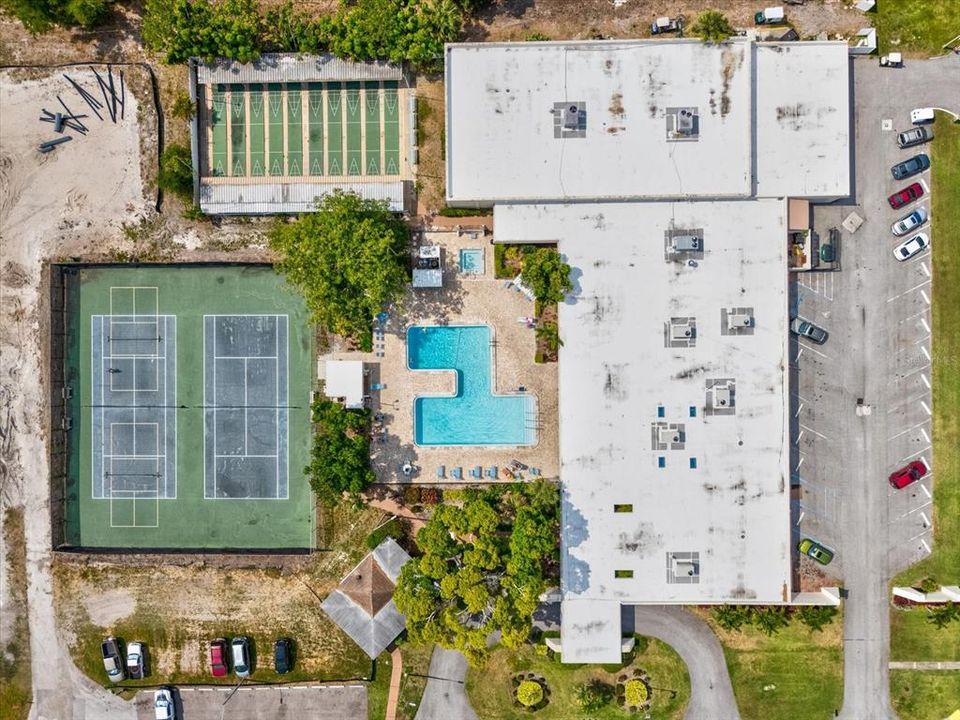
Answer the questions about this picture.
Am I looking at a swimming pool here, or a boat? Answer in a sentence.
This aerial view contains a swimming pool.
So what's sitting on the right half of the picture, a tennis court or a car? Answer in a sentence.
What appears on the right half of the picture is a car.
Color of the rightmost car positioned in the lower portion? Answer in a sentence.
The color of the rightmost car positioned in the lower portion is red.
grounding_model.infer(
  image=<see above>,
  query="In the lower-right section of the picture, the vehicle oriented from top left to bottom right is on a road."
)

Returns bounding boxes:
[799,538,835,566]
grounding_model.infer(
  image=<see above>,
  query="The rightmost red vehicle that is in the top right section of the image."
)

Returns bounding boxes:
[887,183,925,209]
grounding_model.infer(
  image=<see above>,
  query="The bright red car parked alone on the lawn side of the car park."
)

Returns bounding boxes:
[889,461,927,488]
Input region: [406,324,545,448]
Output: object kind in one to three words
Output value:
swimming pool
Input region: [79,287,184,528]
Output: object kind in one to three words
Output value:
tennis court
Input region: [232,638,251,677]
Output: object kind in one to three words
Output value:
car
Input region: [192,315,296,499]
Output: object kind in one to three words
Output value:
tennis court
